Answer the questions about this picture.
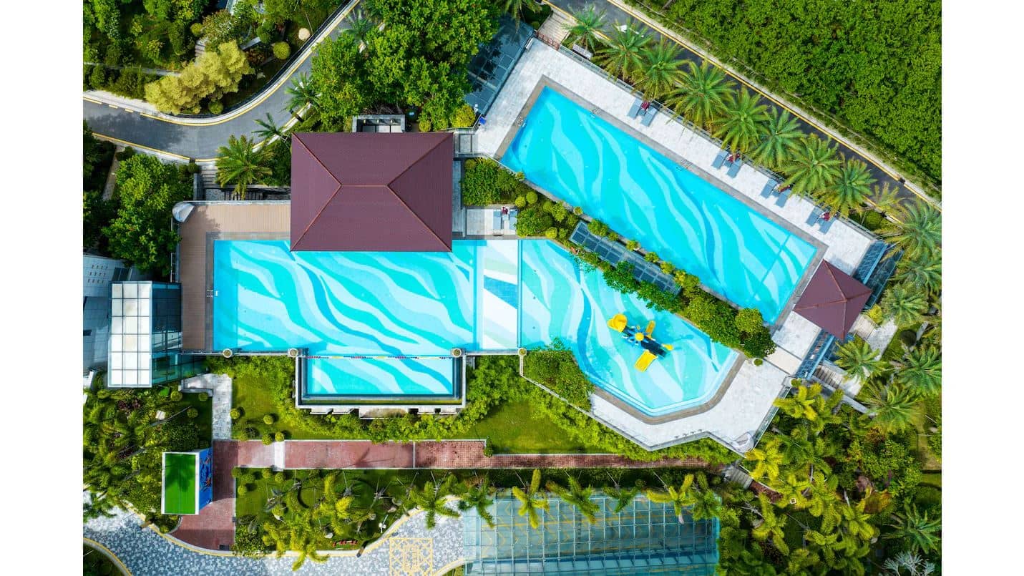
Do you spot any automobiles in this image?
No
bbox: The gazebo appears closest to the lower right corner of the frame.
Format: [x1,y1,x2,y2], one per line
[785,258,873,340]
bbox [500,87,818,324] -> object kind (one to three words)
swimming pool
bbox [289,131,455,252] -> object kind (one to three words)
building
